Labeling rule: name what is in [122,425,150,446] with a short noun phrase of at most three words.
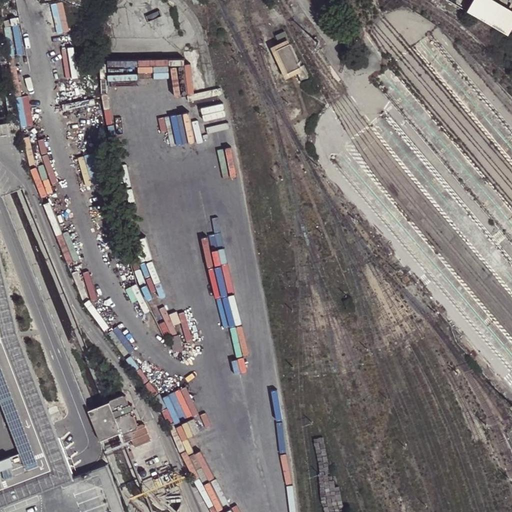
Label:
shed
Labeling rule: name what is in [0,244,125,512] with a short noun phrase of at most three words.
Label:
building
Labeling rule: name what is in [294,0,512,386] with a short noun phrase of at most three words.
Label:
train station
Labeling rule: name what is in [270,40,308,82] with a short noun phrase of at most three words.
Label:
building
